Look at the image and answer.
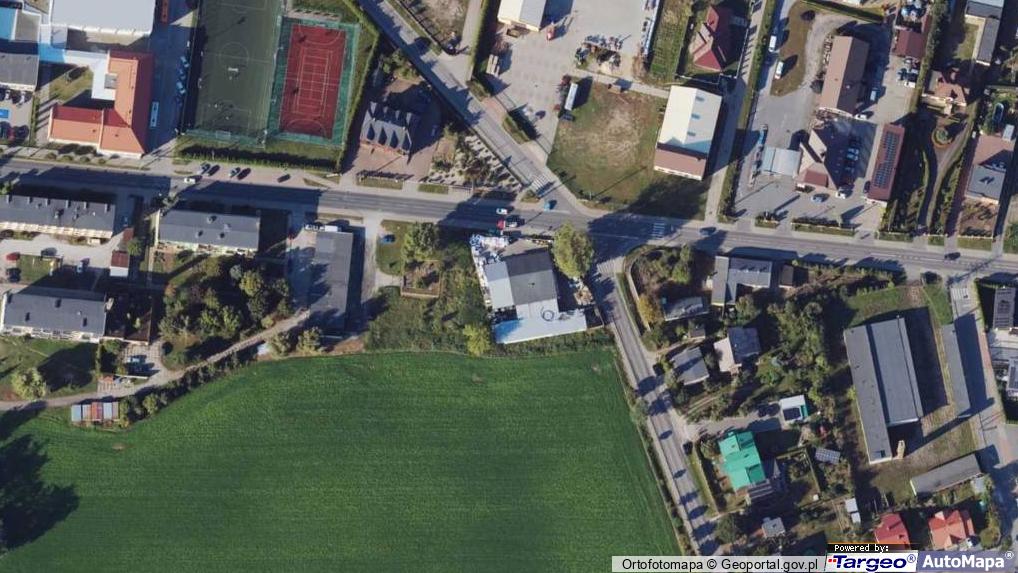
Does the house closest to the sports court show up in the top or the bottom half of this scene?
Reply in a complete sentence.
The house closest to the sports court is in the top half of the image.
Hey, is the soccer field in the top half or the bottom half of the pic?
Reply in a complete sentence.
The top half of the photo is where the soccer field is.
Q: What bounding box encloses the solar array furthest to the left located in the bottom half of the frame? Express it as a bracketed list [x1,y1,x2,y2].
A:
[813,448,839,464]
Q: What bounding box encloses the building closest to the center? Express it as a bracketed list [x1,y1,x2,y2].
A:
[484,247,587,346]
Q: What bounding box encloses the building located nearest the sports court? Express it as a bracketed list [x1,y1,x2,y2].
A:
[361,100,413,157]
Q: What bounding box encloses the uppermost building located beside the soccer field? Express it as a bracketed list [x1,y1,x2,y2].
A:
[39,0,159,50]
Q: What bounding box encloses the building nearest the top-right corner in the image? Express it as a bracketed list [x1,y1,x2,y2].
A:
[963,0,1003,68]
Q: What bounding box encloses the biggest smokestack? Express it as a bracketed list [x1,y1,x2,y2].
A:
[894,446,908,462]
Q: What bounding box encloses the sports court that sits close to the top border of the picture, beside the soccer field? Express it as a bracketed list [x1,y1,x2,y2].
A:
[268,16,360,145]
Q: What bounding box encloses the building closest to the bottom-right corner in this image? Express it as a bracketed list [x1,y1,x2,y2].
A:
[928,510,975,557]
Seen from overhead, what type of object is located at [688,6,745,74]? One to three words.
house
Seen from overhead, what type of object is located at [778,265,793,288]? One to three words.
shed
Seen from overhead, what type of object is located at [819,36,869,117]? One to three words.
barn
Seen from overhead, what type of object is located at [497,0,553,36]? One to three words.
building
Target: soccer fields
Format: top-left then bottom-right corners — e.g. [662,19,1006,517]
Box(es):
[184,0,281,145]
